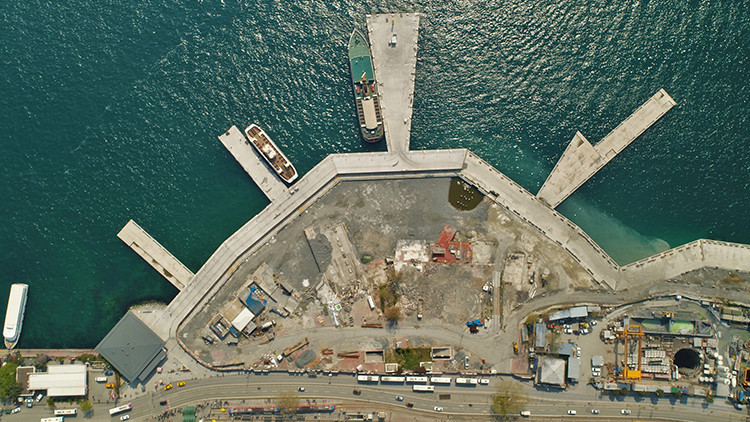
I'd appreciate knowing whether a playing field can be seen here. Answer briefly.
No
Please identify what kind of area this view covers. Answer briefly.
port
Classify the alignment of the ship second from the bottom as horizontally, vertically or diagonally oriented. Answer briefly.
diagonally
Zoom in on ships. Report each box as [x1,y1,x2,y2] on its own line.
[349,29,382,144]
[245,123,300,185]
[4,281,31,348]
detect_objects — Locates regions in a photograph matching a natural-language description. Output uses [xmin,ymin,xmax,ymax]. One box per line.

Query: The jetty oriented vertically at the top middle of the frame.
[366,12,420,152]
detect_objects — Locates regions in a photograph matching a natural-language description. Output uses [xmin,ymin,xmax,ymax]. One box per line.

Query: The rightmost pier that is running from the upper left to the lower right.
[218,125,289,202]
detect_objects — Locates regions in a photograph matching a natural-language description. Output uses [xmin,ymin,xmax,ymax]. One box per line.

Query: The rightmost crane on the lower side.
[613,316,644,380]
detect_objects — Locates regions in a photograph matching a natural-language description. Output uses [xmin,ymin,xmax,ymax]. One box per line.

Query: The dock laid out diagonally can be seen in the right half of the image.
[536,89,676,209]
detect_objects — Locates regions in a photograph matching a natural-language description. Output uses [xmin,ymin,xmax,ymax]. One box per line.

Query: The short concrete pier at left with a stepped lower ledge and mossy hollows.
[116,219,196,290]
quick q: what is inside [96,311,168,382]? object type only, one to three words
building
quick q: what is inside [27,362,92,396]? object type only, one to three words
building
